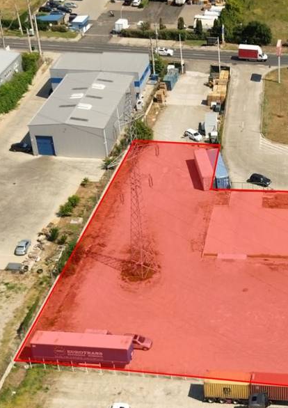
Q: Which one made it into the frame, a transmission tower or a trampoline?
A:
transmission tower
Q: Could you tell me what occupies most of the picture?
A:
paved ground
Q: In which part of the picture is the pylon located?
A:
center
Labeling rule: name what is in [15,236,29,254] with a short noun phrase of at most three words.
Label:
car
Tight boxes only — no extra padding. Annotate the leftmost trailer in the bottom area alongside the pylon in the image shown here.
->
[27,331,135,364]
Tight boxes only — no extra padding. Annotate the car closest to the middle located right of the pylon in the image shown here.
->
[183,126,203,140]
